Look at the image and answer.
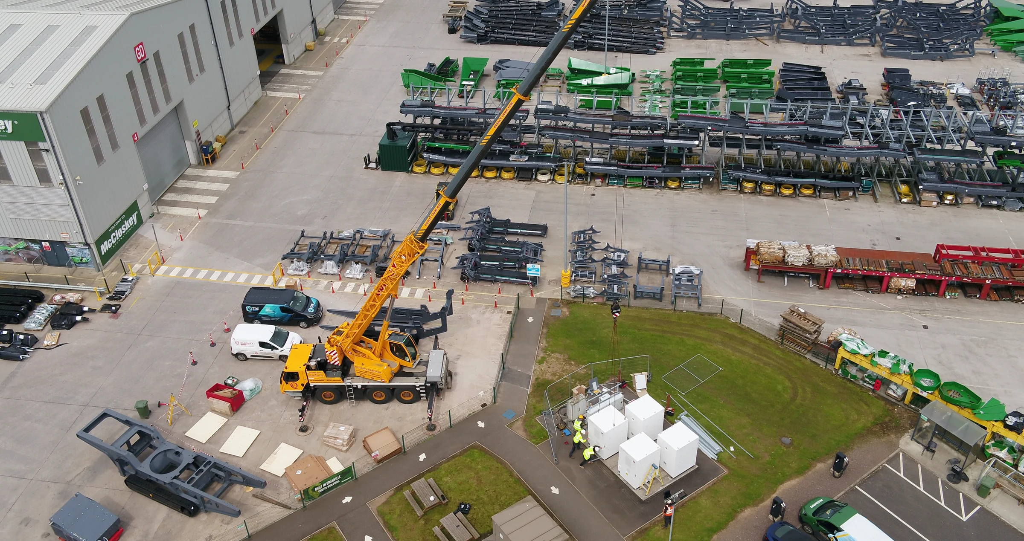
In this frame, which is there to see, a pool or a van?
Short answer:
van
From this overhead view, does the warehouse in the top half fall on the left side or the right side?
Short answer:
left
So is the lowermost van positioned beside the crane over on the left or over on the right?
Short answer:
left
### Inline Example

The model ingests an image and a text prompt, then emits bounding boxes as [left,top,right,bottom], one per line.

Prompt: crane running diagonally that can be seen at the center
[283,0,599,434]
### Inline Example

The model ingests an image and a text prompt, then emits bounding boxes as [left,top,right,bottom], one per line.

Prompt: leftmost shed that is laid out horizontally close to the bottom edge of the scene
[474,495,573,541]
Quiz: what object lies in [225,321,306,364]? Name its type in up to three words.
van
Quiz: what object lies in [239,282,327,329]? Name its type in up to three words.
van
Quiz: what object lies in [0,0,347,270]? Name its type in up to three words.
warehouse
